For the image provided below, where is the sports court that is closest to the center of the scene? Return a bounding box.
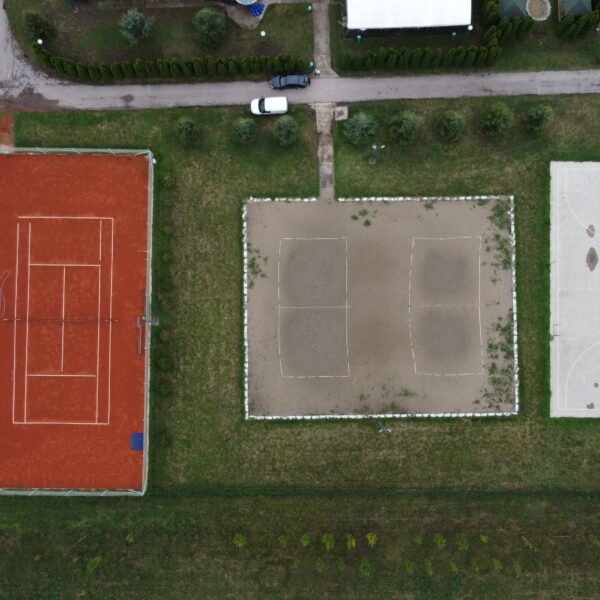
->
[278,238,350,377]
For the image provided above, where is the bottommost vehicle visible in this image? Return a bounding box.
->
[252,94,288,115]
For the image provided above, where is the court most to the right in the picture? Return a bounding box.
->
[550,162,600,418]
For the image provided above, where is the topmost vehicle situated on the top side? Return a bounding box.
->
[269,70,308,91]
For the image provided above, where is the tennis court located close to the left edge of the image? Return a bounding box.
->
[0,153,152,490]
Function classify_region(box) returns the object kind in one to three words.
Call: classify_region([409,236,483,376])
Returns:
sports court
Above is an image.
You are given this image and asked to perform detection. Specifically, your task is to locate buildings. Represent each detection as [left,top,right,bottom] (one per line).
[557,0,592,23]
[342,0,472,38]
[495,0,527,23]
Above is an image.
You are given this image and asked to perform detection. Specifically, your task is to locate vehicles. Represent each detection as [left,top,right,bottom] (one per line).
[252,94,288,115]
[269,70,308,91]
